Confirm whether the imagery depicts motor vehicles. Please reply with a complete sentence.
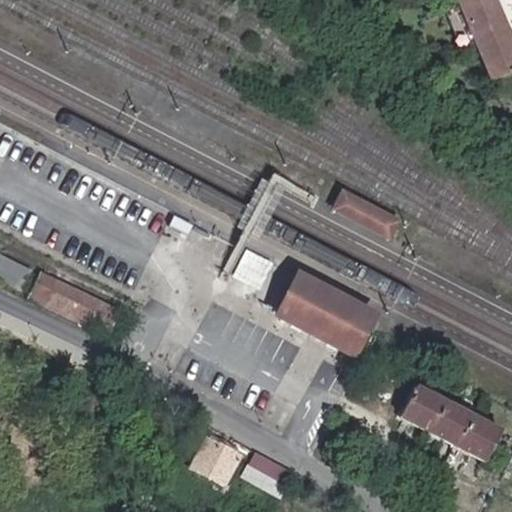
Yes, you can see a motor vehicle in this photo.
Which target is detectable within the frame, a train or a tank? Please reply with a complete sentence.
The image shows a train.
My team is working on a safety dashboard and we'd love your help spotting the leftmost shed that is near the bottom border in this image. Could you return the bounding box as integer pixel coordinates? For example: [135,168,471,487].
[189,436,246,490]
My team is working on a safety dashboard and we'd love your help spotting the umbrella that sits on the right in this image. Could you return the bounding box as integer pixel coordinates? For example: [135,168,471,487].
[456,34,470,48]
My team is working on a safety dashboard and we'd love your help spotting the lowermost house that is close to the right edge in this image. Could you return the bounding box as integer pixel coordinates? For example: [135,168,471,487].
[400,384,503,463]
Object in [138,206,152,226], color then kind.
white car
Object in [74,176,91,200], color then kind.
white car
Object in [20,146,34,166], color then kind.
gray car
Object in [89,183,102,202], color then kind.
white vehicle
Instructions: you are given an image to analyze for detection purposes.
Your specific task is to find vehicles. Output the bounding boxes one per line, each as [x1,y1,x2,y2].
[126,200,141,222]
[138,206,152,226]
[186,360,200,382]
[211,372,225,392]
[8,142,23,161]
[0,134,13,158]
[64,236,80,258]
[124,268,138,288]
[11,210,26,231]
[46,230,60,248]
[114,195,130,217]
[48,163,62,184]
[244,384,260,410]
[256,390,270,410]
[74,176,91,200]
[76,242,91,264]
[60,168,78,195]
[113,261,128,282]
[222,377,236,398]
[149,212,165,234]
[100,189,116,212]
[89,183,102,202]
[30,152,46,174]
[20,146,34,166]
[88,247,105,272]
[0,202,14,223]
[22,214,40,238]
[102,256,117,278]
